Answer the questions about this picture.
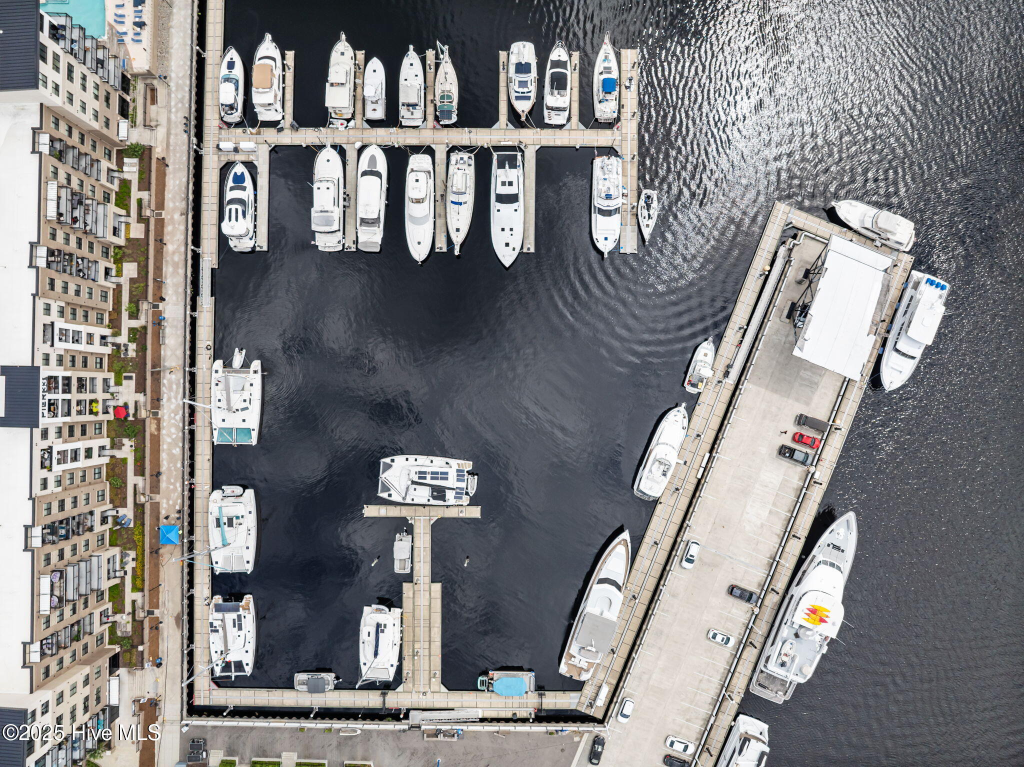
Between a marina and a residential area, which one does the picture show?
marina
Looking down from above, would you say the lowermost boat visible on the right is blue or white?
white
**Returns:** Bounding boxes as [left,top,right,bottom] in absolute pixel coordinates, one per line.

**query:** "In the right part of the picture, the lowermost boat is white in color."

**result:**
[716,712,770,767]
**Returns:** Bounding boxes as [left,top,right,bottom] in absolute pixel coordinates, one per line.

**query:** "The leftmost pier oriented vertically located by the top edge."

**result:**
[200,0,226,269]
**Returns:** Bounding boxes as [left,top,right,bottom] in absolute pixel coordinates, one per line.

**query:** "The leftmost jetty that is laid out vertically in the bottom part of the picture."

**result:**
[194,296,216,705]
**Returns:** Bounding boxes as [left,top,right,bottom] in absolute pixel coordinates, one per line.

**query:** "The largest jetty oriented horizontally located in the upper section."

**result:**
[219,119,621,154]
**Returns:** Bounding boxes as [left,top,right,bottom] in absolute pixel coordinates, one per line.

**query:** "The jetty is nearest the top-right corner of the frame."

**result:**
[789,211,914,266]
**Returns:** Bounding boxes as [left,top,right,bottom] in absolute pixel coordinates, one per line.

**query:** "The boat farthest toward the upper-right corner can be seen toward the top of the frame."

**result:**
[833,197,916,251]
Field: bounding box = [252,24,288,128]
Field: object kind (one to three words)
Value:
boat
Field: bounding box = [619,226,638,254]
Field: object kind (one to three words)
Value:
pier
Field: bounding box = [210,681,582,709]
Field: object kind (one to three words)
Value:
pier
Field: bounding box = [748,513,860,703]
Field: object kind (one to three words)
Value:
vessel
